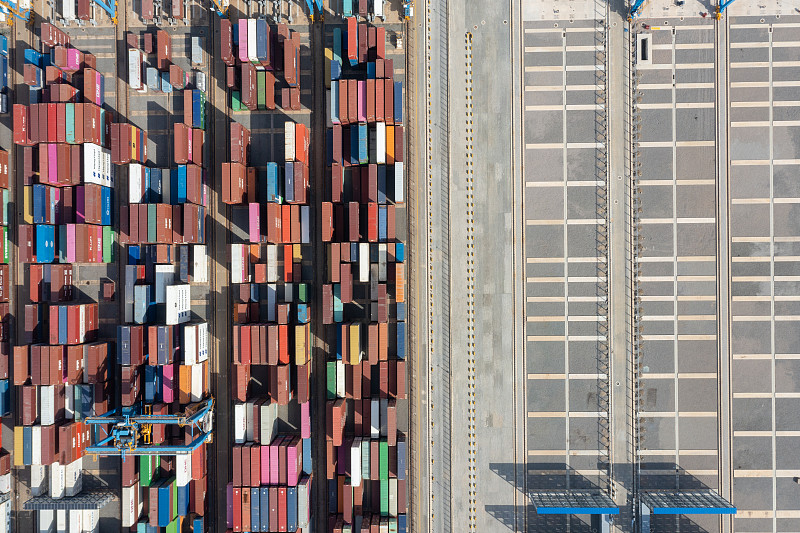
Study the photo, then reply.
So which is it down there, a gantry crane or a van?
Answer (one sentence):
It is a gantry crane that can be seen here.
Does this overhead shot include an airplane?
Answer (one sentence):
No, I can't see a single airplane in this photo.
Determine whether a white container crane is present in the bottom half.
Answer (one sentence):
No, no white container crane is visible in the bottom half.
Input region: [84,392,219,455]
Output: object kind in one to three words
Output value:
container crane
